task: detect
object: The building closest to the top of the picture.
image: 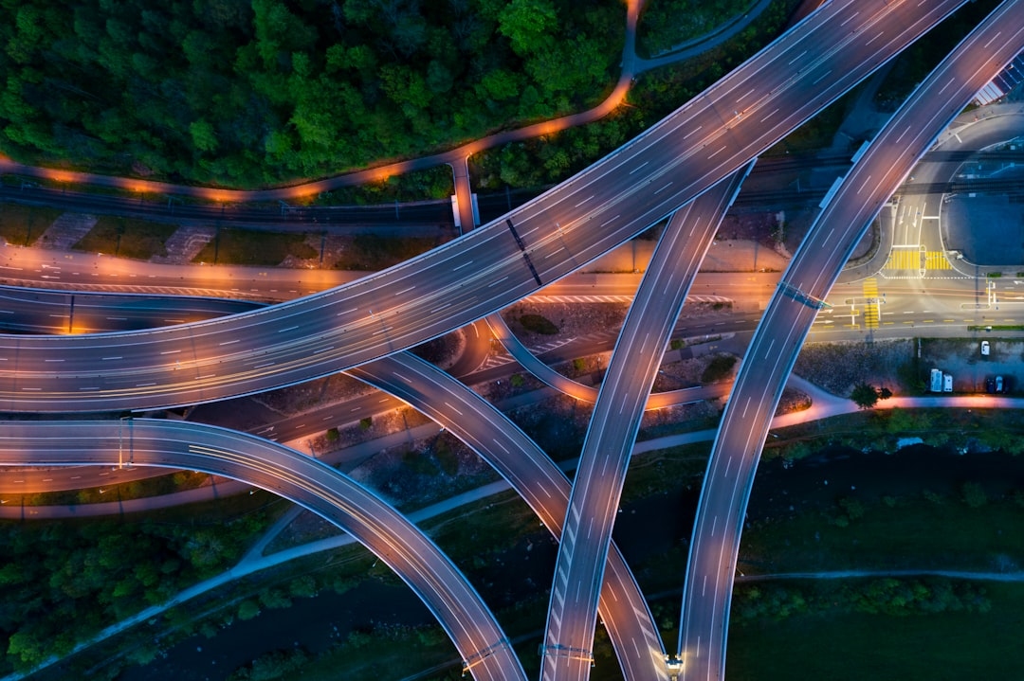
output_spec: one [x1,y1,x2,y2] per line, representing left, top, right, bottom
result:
[971,49,1024,113]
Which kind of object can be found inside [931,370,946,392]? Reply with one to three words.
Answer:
camper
